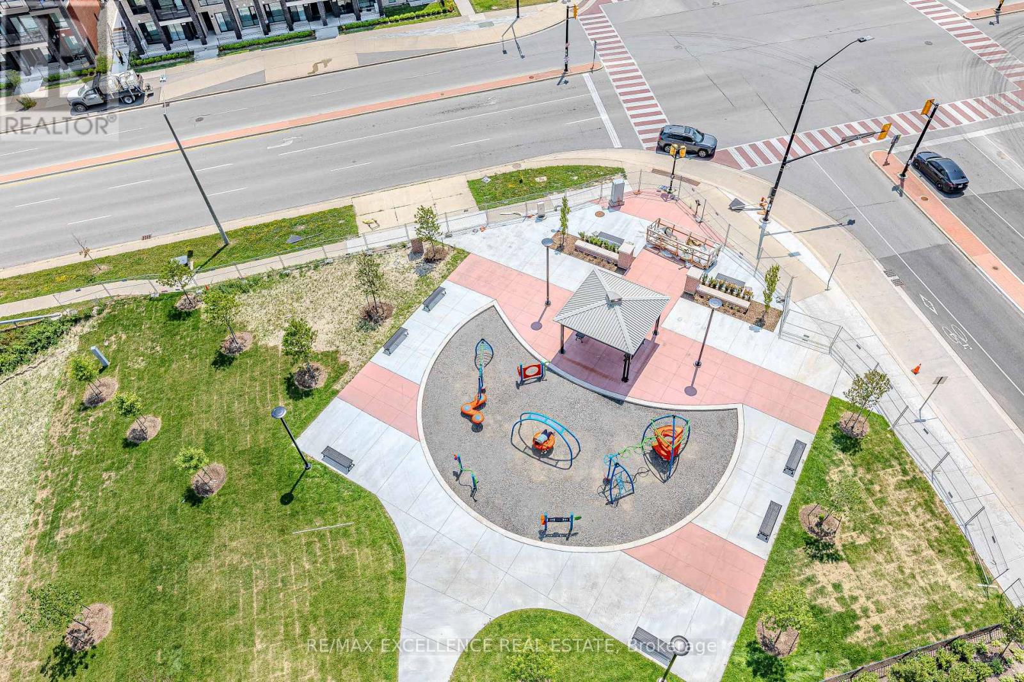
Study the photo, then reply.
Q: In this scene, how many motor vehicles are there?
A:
3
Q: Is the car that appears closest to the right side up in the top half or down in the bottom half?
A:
top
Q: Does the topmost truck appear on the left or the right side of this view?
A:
left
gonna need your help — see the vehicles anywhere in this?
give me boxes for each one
[658,121,720,157]
[63,75,144,112]
[913,148,974,192]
